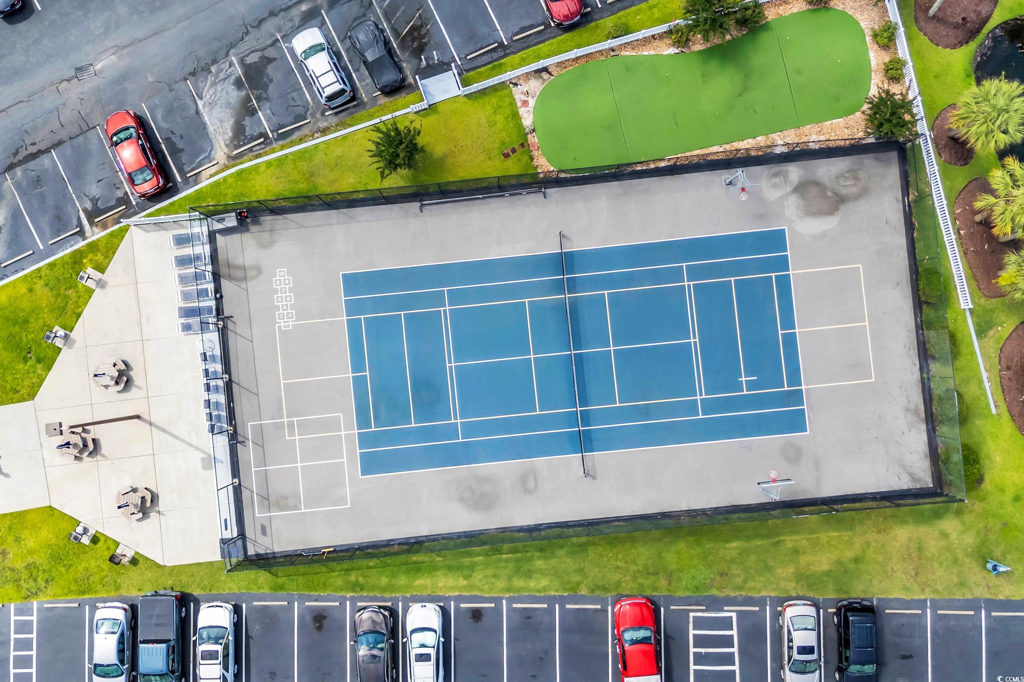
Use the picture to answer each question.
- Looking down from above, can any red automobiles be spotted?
Yes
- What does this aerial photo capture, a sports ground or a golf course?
sports ground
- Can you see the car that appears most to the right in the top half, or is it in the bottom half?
bottom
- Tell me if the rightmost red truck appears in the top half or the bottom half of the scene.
bottom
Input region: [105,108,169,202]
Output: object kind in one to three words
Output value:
car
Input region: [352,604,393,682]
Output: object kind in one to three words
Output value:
car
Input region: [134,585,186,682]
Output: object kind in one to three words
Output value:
truck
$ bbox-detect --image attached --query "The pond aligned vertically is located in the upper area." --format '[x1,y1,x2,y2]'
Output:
[972,13,1024,169]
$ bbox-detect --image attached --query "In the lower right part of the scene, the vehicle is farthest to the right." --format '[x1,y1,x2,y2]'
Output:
[831,597,883,682]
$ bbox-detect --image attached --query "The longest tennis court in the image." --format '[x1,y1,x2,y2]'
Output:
[207,140,943,566]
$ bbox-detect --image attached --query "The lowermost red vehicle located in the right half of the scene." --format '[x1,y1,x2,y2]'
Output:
[614,596,661,682]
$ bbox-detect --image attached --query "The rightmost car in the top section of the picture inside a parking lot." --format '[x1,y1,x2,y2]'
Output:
[541,0,581,29]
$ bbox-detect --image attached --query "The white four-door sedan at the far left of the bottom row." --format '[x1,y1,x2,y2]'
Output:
[87,602,135,682]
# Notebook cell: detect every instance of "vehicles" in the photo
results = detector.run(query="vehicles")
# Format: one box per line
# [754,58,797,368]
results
[0,0,17,19]
[294,27,352,111]
[352,604,393,682]
[87,602,135,682]
[404,604,444,682]
[541,0,581,29]
[105,108,169,202]
[614,596,661,682]
[780,599,827,682]
[831,597,883,682]
[193,602,238,682]
[134,585,186,682]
